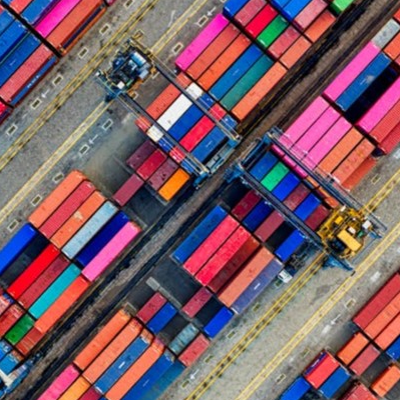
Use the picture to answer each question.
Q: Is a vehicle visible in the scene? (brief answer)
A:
Yes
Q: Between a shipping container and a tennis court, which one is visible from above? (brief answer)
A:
shipping container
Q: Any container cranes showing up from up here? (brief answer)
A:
Yes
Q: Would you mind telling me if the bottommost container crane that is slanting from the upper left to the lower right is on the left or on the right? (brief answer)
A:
right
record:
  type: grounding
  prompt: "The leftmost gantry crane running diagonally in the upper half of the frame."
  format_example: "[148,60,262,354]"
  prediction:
[89,27,250,186]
